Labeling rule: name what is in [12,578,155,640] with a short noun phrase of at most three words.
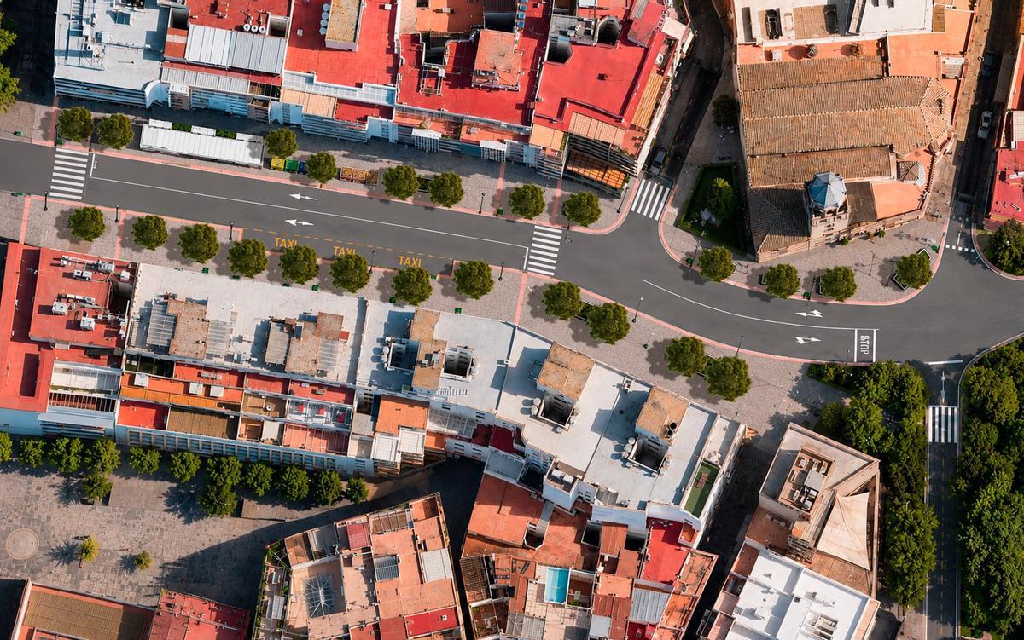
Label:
house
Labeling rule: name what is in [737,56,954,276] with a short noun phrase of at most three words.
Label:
church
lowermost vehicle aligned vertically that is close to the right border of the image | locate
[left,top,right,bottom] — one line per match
[977,110,993,140]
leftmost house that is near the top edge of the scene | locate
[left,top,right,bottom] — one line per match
[54,0,172,119]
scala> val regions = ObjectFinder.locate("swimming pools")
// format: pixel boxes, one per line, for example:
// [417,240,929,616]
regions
[544,566,570,605]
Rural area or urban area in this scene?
urban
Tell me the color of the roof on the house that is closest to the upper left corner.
white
